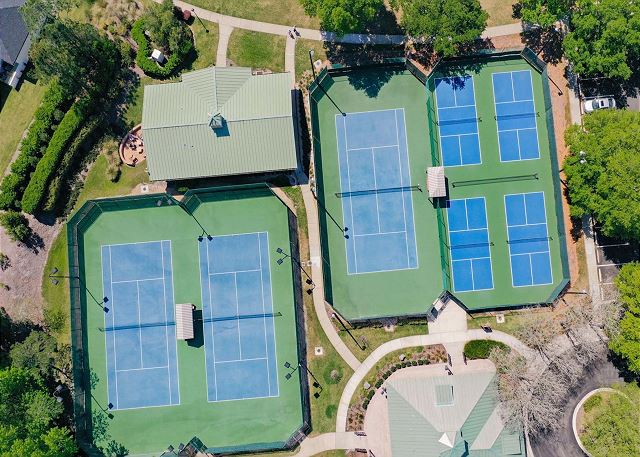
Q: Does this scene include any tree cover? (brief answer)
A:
Yes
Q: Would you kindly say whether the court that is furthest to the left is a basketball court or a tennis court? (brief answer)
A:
tennis court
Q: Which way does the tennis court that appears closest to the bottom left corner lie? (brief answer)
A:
from top to bottom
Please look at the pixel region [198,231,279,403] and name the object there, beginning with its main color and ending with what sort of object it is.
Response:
blue tennis court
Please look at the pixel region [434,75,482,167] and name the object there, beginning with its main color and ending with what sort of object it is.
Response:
blue sports court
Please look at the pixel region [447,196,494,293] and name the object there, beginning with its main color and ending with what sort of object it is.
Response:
blue sports court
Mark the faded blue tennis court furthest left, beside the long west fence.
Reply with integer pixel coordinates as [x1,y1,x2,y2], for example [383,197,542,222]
[101,239,179,411]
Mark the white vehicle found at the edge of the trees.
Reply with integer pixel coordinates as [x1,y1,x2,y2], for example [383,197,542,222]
[585,97,618,113]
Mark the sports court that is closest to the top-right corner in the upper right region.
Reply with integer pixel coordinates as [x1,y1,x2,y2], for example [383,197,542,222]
[492,69,540,162]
